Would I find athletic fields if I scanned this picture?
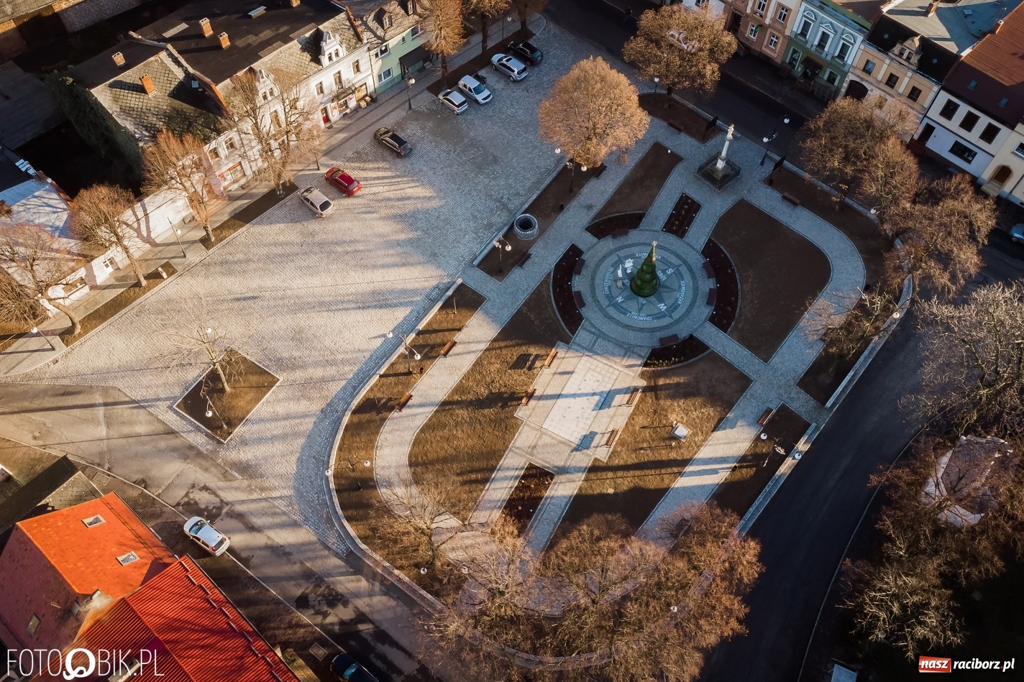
No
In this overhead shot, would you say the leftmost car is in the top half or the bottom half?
bottom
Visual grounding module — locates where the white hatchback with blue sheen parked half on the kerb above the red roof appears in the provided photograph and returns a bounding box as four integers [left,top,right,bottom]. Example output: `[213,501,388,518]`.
[181,520,230,560]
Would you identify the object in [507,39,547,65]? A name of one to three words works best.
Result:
car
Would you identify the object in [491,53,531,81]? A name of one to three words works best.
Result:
car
